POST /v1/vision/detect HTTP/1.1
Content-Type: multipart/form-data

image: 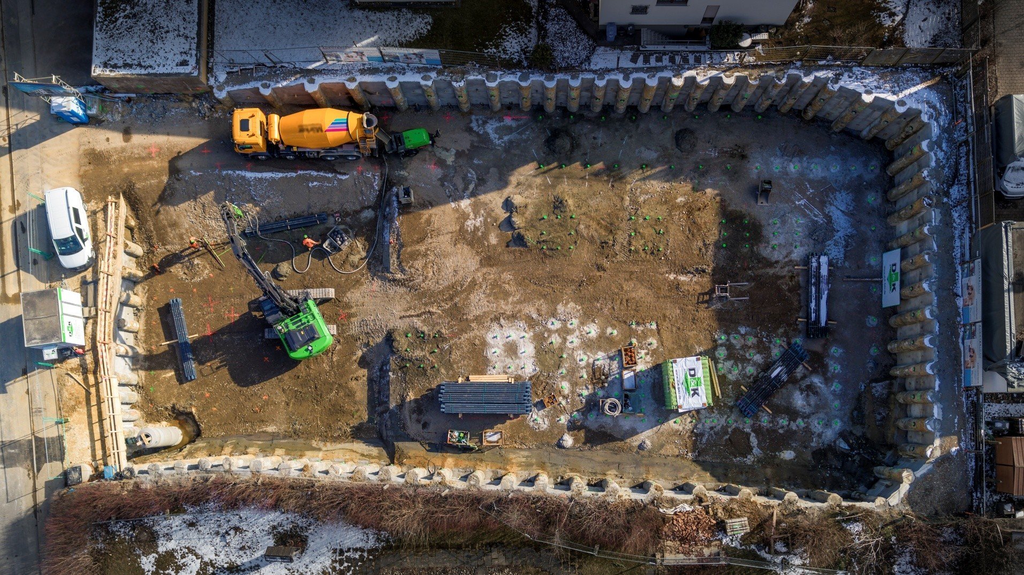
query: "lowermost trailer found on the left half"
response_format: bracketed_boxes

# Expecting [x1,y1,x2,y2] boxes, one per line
[22,287,86,369]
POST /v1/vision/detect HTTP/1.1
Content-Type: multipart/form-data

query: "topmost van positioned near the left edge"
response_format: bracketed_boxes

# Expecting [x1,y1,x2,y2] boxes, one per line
[45,187,99,272]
